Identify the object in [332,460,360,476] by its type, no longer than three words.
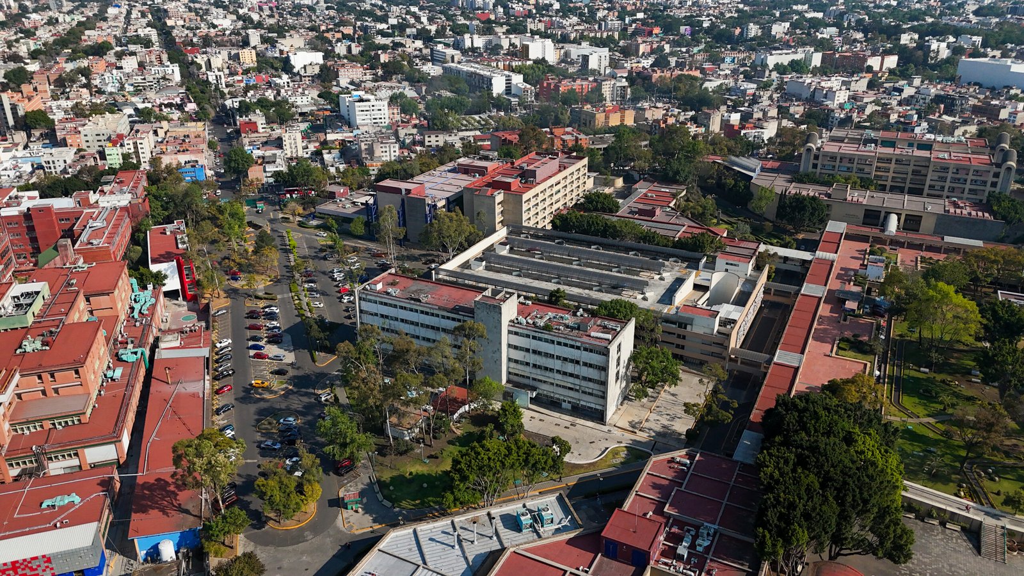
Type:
vehicle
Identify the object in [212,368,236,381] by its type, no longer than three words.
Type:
vehicle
